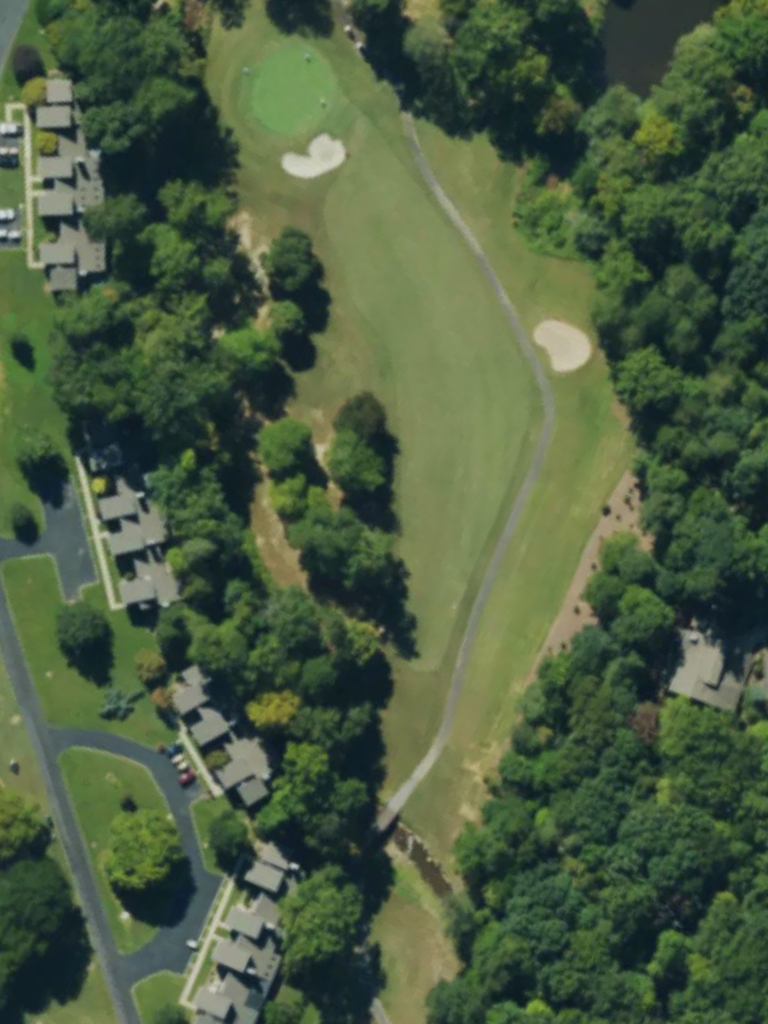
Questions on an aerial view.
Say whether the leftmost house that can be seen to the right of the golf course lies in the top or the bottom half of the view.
bottom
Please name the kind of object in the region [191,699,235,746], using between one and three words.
house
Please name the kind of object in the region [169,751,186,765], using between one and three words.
car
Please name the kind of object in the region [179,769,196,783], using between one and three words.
car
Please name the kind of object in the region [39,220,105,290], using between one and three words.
house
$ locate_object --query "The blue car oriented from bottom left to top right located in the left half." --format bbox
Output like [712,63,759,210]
[166,743,182,756]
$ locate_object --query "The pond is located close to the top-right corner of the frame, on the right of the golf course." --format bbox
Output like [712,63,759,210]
[597,0,713,100]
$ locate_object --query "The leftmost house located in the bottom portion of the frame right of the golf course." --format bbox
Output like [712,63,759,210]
[669,634,758,712]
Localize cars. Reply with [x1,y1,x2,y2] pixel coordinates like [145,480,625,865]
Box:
[166,743,182,756]
[169,751,186,765]
[2,229,20,238]
[0,155,18,162]
[179,769,196,783]
[175,759,191,772]
[0,210,15,218]
[0,146,18,154]
[0,125,17,132]
[184,939,200,949]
